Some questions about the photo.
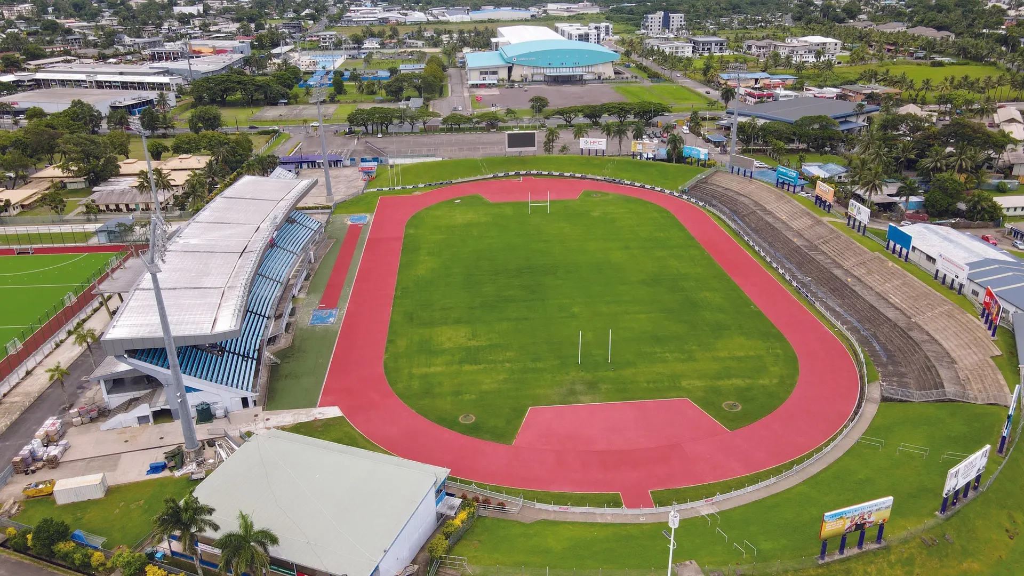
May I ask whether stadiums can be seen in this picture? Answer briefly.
Yes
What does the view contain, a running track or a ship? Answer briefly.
running track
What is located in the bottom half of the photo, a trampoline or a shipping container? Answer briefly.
shipping container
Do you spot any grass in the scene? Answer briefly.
Yes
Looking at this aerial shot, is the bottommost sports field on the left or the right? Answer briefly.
left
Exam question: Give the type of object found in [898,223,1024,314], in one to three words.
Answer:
shed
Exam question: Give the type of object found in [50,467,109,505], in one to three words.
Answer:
shipping container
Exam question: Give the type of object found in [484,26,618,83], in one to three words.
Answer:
stadium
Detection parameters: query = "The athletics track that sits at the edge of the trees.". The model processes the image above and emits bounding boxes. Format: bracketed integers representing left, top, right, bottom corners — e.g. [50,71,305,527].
[319,178,858,492]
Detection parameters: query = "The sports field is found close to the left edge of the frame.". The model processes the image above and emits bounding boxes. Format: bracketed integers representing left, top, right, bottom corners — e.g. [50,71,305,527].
[0,252,129,353]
